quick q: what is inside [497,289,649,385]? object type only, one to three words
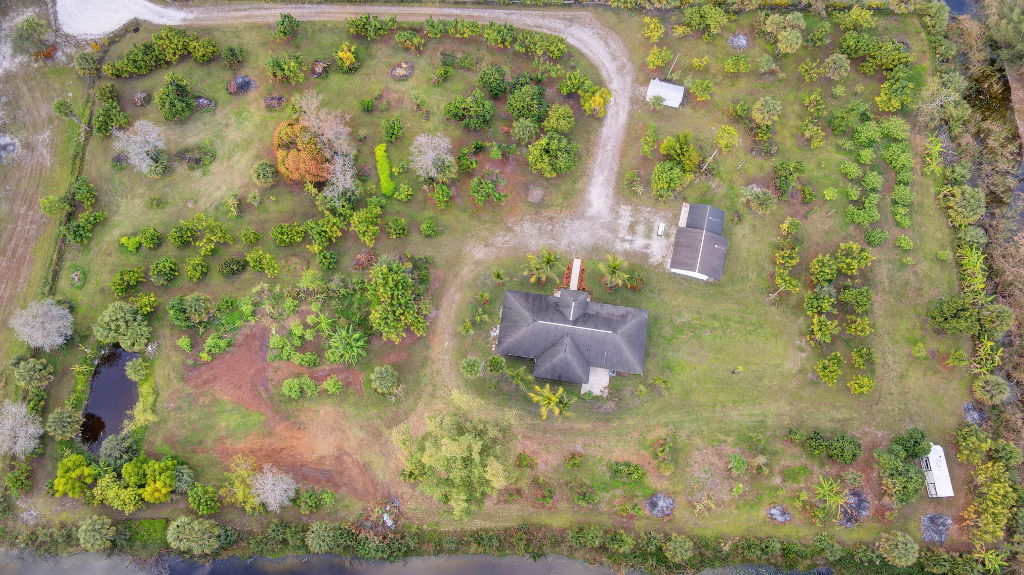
house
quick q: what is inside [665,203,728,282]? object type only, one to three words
building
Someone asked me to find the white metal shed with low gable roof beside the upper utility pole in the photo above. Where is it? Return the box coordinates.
[646,79,684,108]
